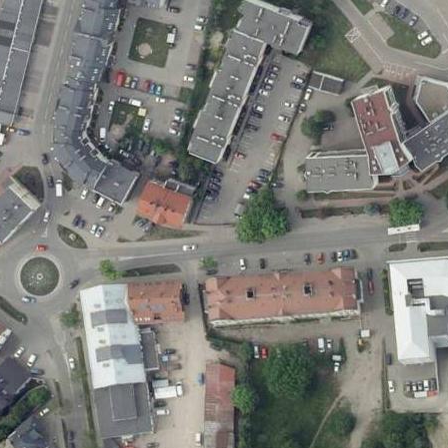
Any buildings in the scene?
Yes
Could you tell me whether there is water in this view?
No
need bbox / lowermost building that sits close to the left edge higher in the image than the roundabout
[0,187,38,247]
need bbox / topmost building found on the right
[237,0,317,60]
